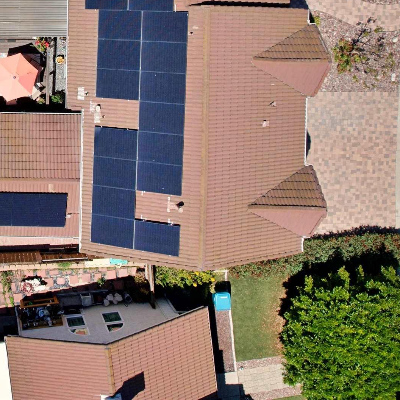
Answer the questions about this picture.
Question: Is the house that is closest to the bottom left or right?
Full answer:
The house that is closest to the bottom sits on the left side.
